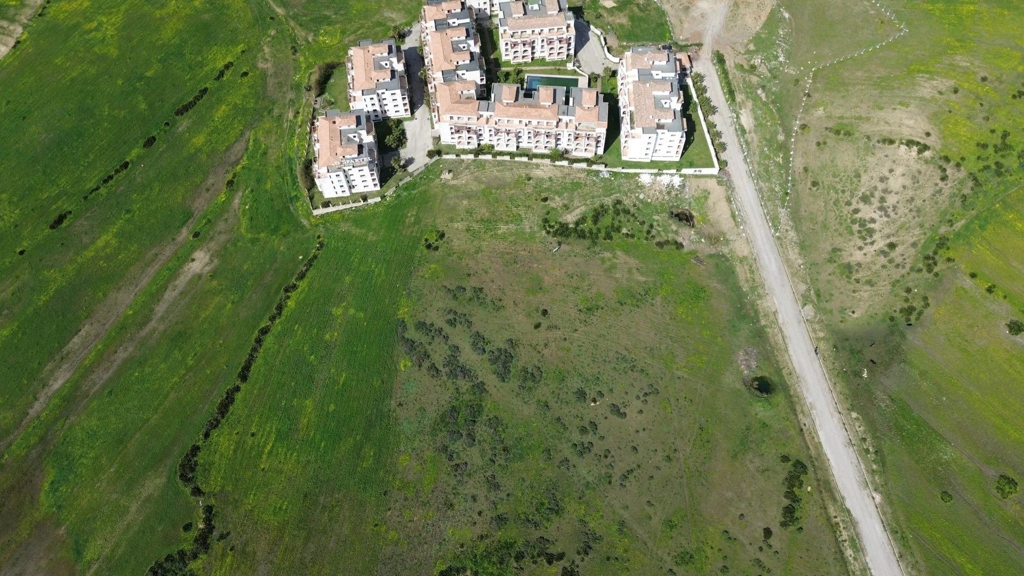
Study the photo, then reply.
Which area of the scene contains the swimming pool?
top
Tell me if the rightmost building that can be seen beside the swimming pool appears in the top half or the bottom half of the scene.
top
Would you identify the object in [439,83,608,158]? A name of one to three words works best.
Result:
building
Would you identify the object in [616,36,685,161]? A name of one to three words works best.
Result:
building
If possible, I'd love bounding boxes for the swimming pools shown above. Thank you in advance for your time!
[524,74,587,97]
